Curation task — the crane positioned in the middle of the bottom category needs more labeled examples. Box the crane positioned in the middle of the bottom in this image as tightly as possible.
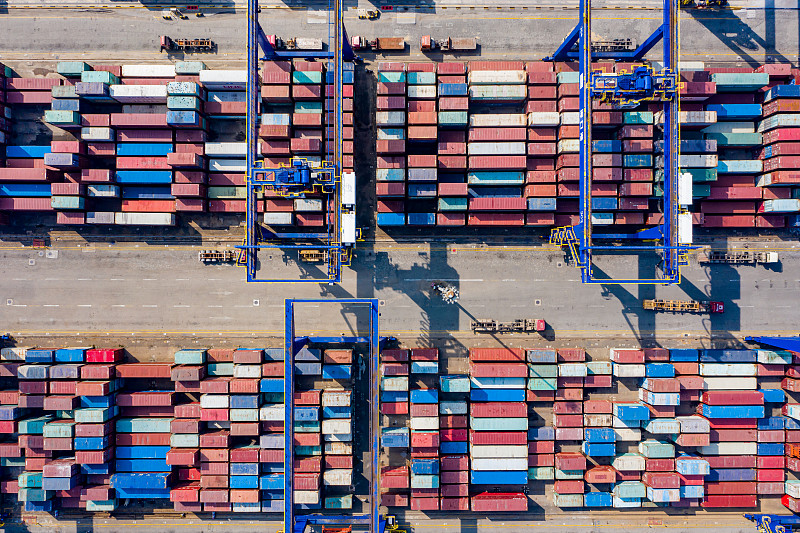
[282,299,402,533]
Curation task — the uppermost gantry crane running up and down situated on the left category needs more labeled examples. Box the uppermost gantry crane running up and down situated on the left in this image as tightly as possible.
[234,0,370,284]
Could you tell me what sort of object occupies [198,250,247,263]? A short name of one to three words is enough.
vehicle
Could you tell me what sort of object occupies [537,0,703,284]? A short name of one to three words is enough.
container crane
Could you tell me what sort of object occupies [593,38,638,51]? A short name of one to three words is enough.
vehicle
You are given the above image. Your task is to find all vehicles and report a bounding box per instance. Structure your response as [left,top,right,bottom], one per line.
[268,35,295,51]
[352,35,377,51]
[363,7,378,20]
[297,251,334,262]
[162,35,216,51]
[593,38,638,51]
[470,319,544,332]
[420,35,449,51]
[698,251,777,263]
[642,300,723,313]
[198,250,247,263]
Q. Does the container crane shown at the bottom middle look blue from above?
Yes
